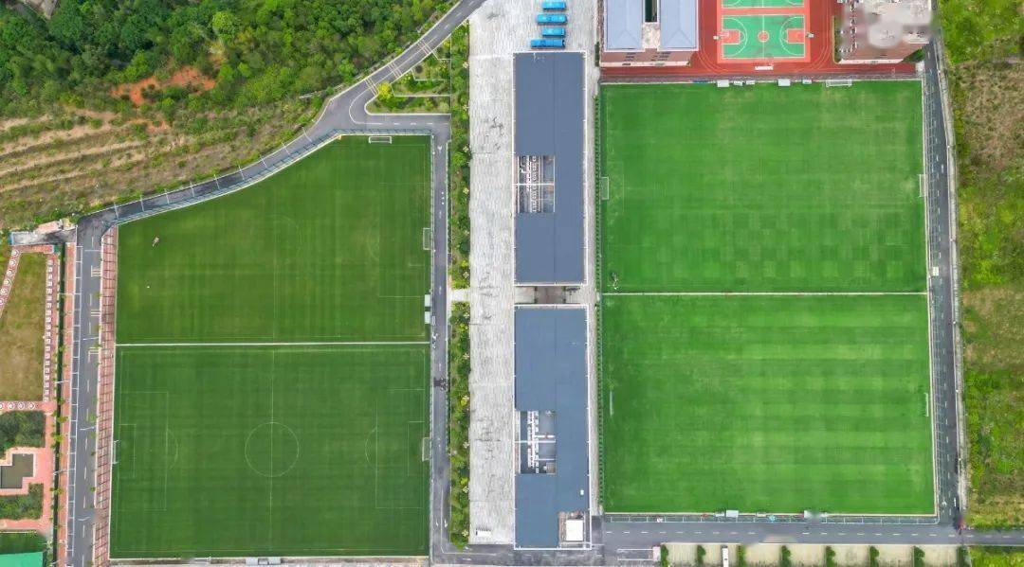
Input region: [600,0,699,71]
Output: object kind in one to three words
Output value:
building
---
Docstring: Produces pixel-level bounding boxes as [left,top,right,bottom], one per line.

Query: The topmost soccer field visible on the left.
[115,134,430,346]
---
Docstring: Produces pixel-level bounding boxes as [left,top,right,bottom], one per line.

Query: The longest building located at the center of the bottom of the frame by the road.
[515,306,590,550]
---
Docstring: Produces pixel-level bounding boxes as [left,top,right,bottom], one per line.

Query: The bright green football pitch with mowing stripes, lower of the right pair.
[604,294,936,517]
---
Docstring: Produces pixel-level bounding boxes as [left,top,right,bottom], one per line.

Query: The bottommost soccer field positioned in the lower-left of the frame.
[109,343,430,559]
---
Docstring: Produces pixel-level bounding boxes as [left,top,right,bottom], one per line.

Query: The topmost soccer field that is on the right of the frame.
[603,79,929,295]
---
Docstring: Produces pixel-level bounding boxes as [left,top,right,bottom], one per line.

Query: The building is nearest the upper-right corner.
[840,0,932,66]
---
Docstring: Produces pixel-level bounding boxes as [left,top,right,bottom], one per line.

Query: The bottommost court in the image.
[717,11,810,63]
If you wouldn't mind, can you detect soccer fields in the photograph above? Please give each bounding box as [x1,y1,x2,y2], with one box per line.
[109,343,430,559]
[603,79,929,295]
[604,294,936,517]
[115,134,430,346]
